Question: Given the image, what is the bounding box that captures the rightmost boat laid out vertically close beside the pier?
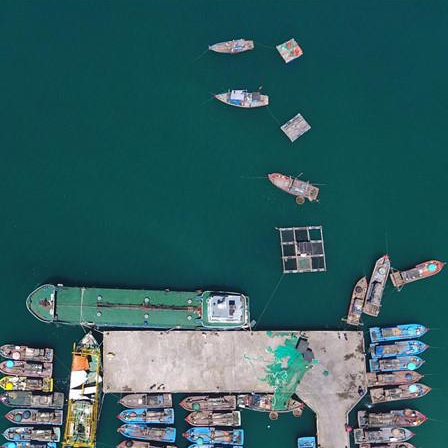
[362,254,388,316]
